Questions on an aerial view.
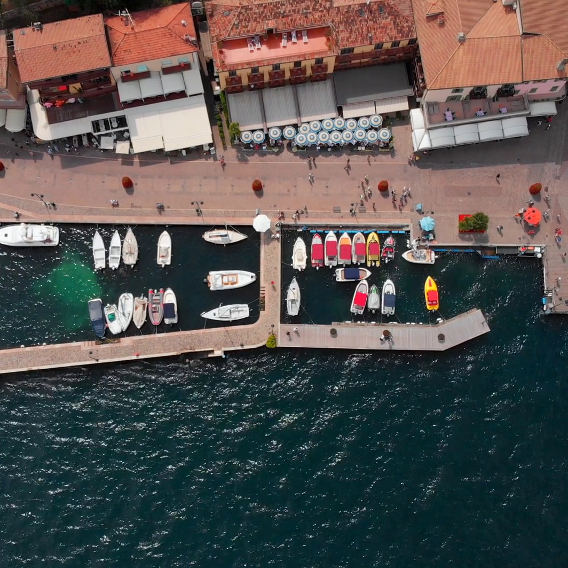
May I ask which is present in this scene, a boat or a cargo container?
boat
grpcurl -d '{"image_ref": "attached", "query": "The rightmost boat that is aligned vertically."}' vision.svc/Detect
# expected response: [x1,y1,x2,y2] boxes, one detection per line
[424,276,441,314]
